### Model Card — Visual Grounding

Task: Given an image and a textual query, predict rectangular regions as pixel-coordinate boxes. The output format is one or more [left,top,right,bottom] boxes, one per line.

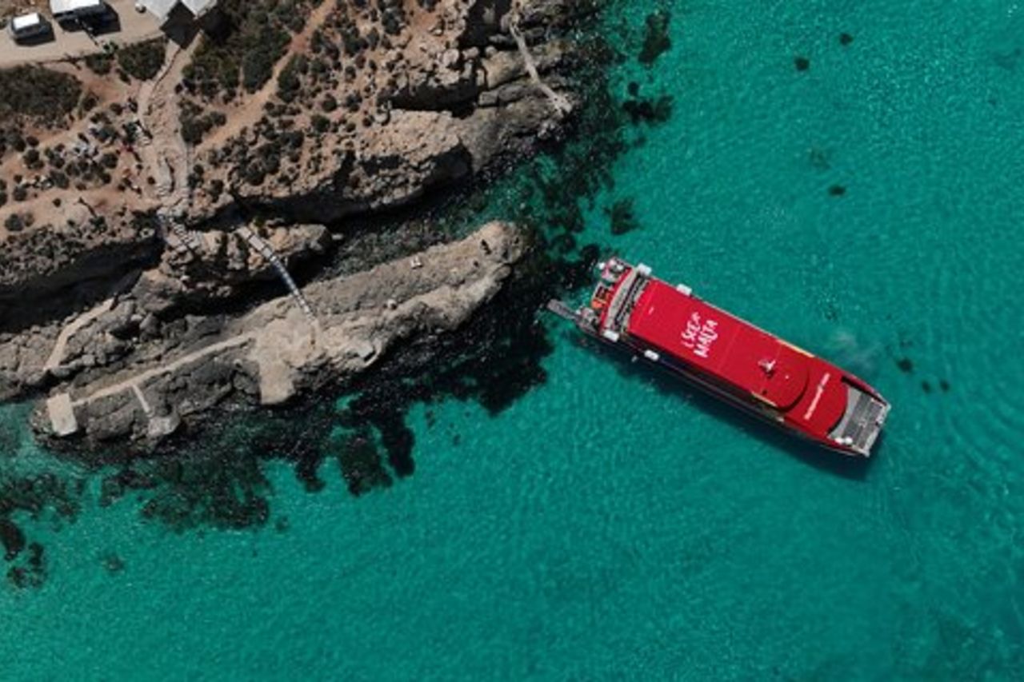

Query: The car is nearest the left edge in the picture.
[13,14,55,40]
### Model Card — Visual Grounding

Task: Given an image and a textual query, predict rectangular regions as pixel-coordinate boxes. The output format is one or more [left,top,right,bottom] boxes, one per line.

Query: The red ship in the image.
[544,258,891,456]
